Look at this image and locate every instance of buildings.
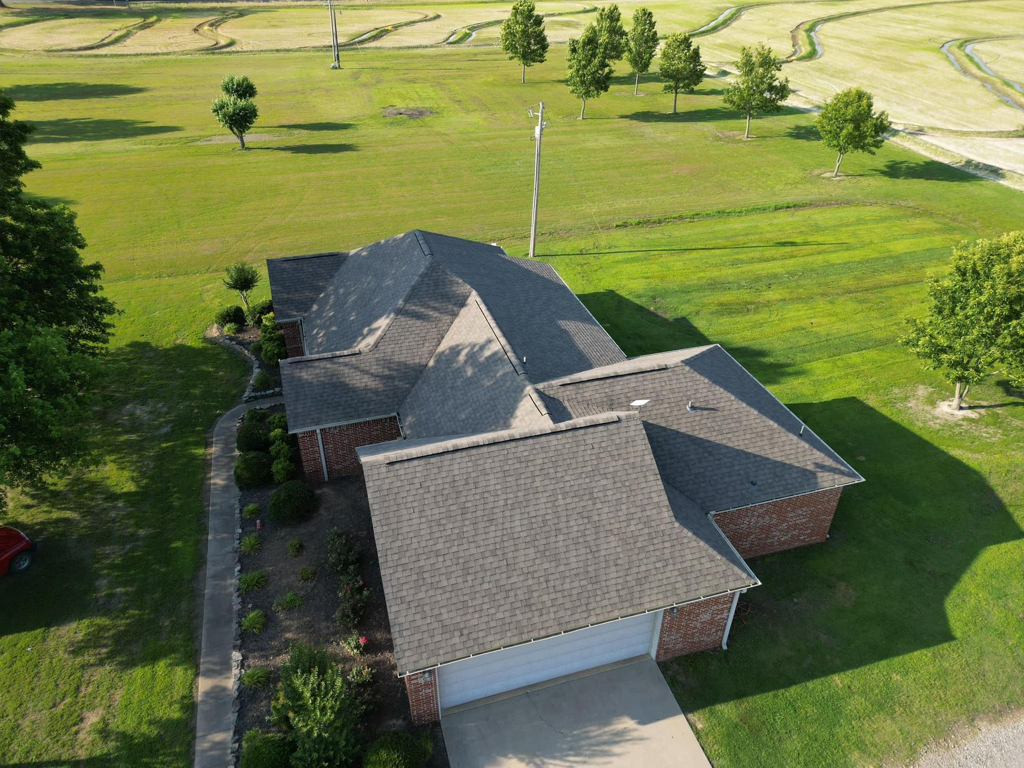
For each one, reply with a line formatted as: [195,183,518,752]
[267,233,868,725]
